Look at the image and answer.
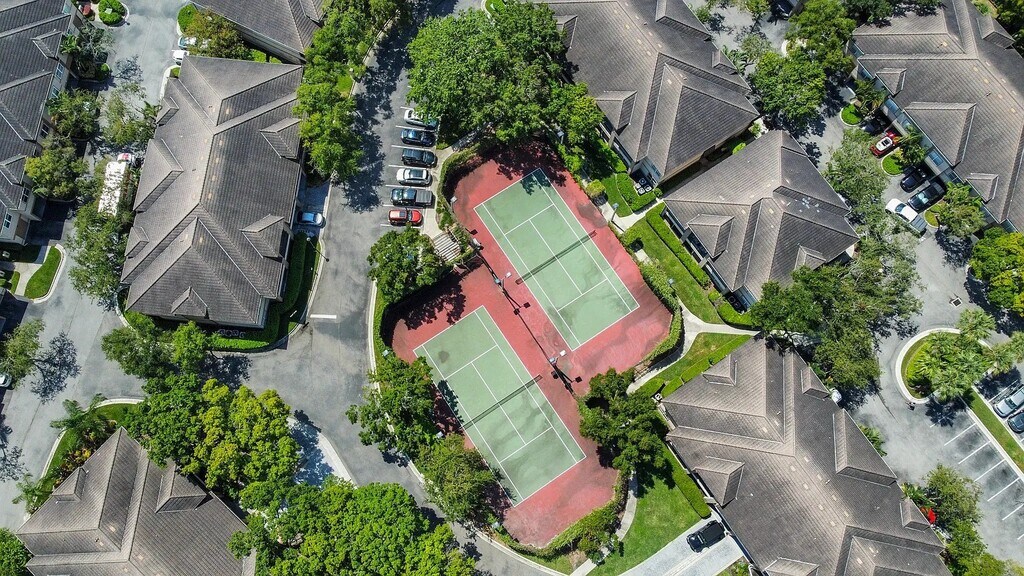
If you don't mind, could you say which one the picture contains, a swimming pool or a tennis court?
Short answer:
tennis court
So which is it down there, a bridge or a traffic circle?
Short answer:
traffic circle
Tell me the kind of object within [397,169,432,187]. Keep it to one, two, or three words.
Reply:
car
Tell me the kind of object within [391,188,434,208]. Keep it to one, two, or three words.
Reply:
vehicle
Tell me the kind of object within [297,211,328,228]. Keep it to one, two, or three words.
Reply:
car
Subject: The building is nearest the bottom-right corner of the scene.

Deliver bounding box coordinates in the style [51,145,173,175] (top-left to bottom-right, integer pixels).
[659,335,950,576]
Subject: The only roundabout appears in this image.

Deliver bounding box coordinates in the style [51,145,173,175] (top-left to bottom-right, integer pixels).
[895,328,997,406]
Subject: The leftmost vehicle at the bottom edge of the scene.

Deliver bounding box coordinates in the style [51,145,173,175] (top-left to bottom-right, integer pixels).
[685,523,726,551]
